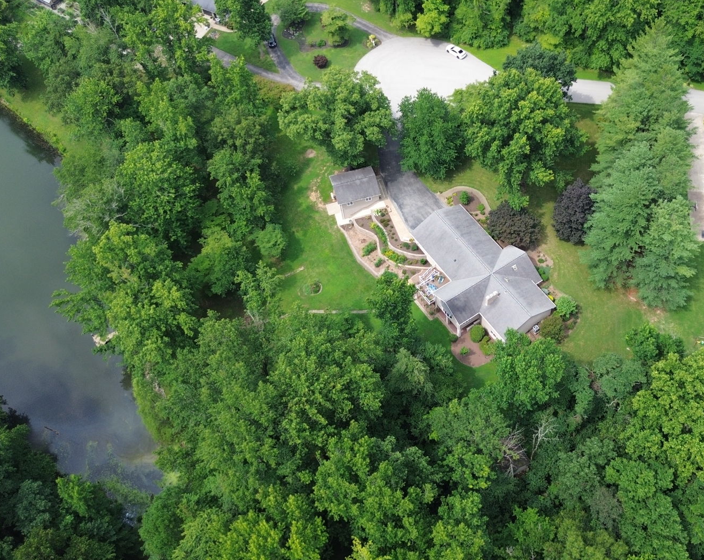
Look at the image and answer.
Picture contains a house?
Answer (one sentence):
Yes, the image includes a house.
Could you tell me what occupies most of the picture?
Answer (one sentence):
For the most part, this view shows trees.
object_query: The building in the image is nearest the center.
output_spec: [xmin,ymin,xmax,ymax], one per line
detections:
[328,169,380,222]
